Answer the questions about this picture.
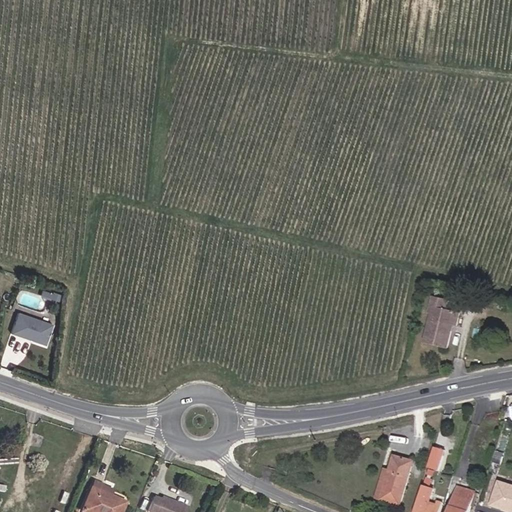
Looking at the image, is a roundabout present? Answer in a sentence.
Yes, this view includes a roundabout.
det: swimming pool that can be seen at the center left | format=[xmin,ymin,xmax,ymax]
[17,292,44,310]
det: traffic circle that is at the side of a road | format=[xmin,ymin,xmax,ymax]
[146,382,257,466]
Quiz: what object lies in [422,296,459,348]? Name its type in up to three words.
house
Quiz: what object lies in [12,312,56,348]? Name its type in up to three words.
house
